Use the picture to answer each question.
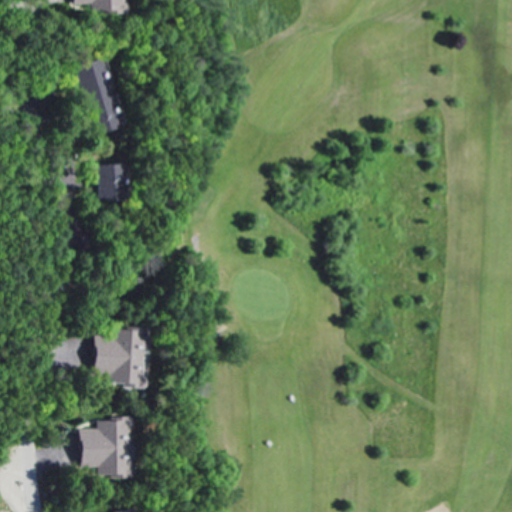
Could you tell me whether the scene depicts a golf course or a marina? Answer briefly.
golf course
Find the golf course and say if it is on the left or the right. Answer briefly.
right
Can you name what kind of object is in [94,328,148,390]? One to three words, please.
house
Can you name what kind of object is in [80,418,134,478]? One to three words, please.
house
